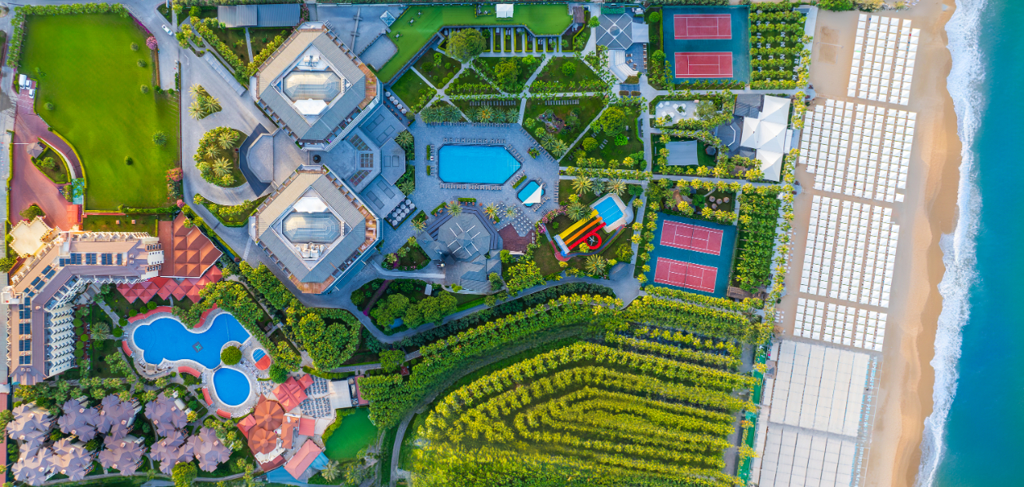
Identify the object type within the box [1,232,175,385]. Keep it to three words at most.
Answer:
building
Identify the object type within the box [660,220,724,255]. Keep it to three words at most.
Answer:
tennis court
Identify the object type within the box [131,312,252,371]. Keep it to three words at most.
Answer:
swimming pool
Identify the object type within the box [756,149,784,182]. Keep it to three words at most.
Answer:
tent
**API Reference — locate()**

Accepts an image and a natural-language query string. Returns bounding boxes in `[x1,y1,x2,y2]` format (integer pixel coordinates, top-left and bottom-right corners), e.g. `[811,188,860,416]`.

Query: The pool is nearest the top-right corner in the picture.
[594,196,623,227]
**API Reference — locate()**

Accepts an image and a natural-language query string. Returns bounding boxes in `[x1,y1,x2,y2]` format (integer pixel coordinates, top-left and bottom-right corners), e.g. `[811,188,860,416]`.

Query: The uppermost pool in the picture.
[437,143,522,185]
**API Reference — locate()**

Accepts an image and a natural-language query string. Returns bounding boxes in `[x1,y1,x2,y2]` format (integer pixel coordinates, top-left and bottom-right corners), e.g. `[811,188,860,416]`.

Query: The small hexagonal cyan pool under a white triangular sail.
[517,180,546,207]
